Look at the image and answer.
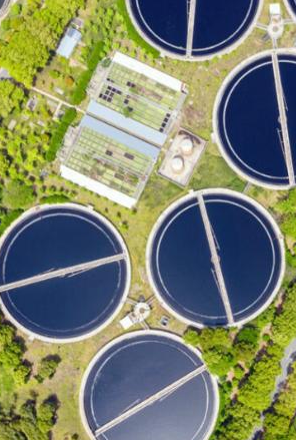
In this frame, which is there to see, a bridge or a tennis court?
bridge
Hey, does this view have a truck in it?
No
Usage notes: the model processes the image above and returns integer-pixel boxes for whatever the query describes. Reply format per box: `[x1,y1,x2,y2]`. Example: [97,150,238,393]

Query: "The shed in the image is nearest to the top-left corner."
[56,23,90,61]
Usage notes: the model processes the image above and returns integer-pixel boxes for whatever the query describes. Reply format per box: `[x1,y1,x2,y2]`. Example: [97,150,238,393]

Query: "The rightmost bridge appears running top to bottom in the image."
[273,48,295,189]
